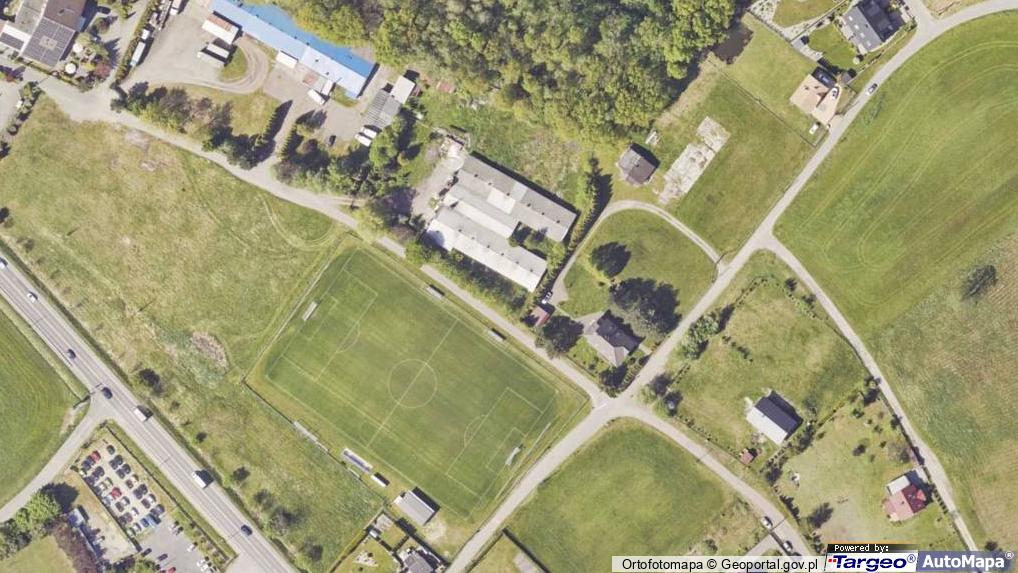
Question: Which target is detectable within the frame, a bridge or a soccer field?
soccer field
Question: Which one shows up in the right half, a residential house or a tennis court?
residential house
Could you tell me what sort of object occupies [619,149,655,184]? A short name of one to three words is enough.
house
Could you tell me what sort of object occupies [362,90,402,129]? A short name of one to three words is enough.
shed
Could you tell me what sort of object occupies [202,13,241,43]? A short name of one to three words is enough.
shed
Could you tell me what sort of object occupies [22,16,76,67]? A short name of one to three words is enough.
building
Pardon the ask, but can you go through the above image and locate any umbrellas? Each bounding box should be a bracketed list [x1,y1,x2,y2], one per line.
[66,63,77,74]
[73,43,83,53]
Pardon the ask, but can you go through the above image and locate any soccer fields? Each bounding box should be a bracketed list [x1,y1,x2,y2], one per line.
[264,246,561,521]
